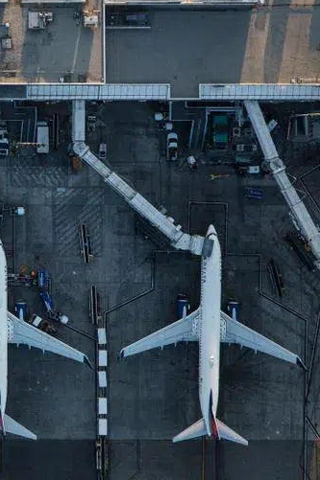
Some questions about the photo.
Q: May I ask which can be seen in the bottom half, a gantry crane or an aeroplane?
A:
aeroplane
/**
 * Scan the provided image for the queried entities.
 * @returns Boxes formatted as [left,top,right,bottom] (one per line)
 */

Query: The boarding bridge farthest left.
[69,101,211,255]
